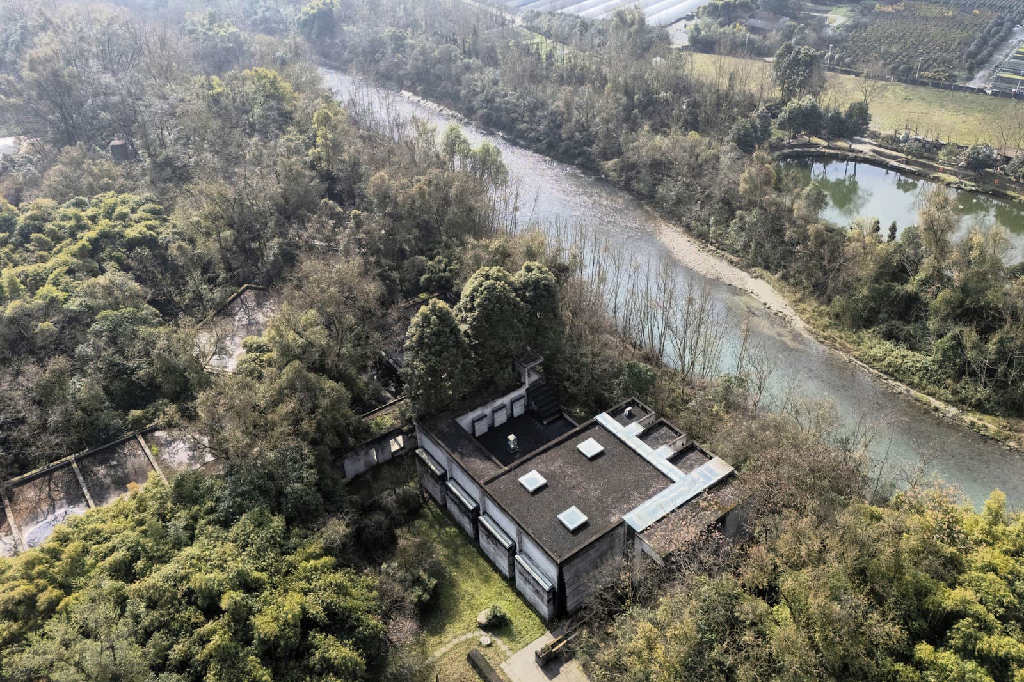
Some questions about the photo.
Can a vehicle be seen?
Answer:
No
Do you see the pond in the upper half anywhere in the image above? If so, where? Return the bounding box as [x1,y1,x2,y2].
[771,157,1024,255]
